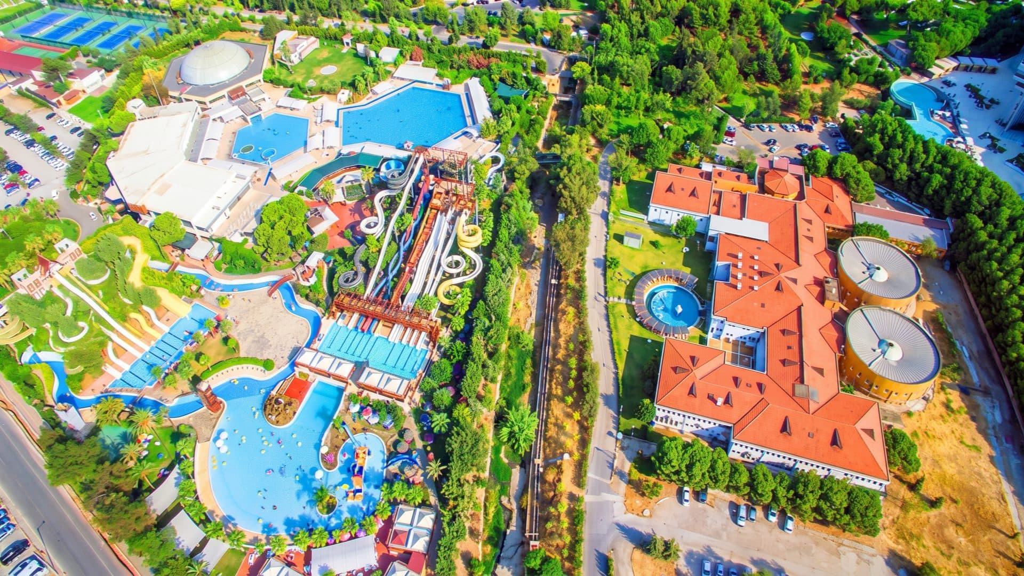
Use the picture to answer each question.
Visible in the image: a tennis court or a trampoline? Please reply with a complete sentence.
The image shows a tennis court.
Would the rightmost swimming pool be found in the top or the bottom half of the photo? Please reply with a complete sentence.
You can find the rightmost swimming pool in the top half.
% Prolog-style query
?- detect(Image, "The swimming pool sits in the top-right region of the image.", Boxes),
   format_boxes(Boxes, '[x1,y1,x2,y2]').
[890,80,959,145]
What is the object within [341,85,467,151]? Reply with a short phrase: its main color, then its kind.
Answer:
blue swimming pool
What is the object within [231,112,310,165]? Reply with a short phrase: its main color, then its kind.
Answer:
blue swimming pool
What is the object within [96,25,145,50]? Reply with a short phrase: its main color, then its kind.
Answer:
blue tennis court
